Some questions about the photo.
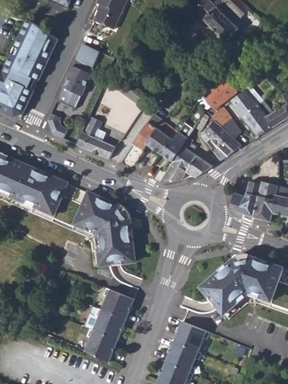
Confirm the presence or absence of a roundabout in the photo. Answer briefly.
Yes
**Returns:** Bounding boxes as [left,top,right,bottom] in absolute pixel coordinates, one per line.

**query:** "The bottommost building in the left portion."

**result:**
[83,290,134,362]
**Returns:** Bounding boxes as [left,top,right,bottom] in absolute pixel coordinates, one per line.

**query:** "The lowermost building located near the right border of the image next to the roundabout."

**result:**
[198,255,286,325]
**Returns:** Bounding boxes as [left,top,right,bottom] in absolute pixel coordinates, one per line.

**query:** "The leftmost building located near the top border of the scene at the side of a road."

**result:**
[0,18,58,117]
